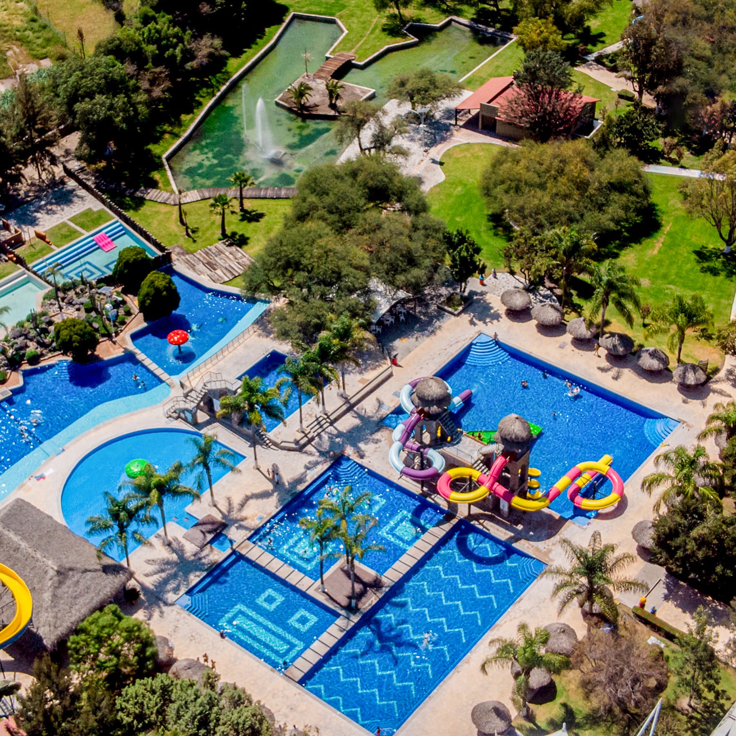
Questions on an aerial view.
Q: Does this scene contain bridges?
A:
Yes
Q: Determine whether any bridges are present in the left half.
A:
Yes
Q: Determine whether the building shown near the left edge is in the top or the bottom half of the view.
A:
bottom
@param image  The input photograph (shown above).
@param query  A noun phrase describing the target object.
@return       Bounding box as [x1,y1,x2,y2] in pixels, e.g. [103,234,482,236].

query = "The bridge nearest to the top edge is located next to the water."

[314,52,356,80]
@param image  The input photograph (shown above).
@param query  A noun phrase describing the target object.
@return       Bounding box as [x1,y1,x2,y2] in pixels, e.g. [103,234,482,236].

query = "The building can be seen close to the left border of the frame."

[0,497,133,658]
